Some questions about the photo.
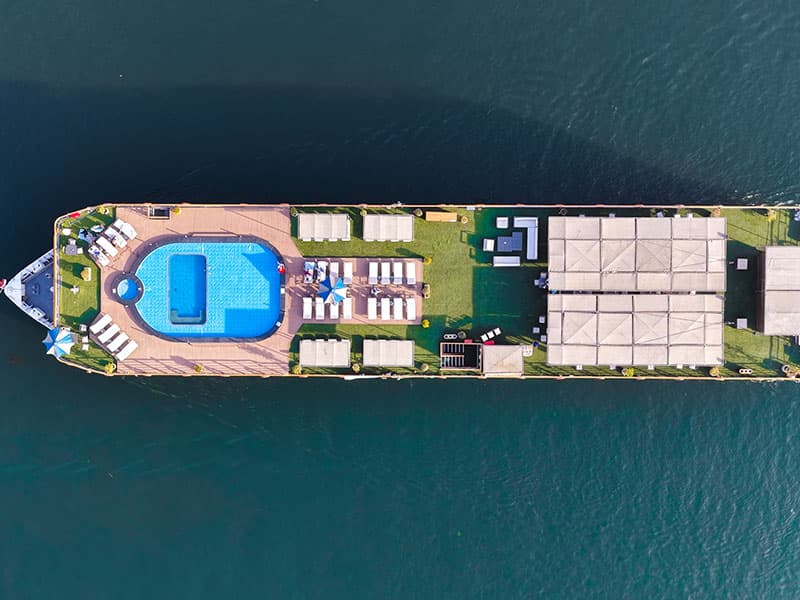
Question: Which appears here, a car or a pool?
pool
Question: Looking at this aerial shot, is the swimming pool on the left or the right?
left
